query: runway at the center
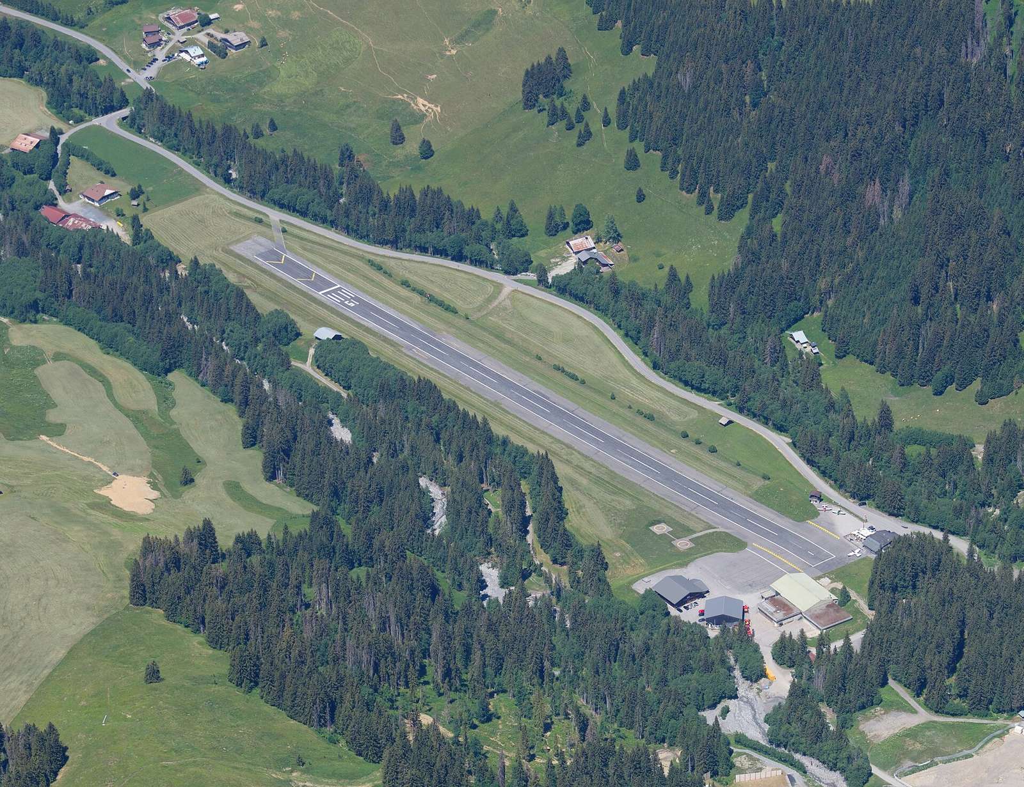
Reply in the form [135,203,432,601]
[255,248,834,566]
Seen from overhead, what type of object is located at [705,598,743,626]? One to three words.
hangar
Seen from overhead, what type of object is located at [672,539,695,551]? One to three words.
helipad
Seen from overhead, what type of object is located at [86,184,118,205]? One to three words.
house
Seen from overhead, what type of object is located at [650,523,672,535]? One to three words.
helipad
